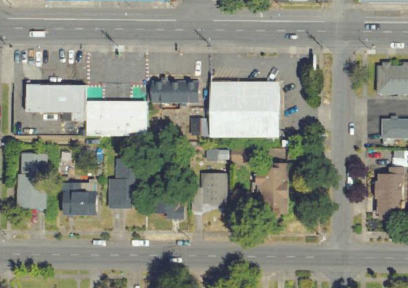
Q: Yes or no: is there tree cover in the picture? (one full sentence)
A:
Yes, tree cover shows up in the scene.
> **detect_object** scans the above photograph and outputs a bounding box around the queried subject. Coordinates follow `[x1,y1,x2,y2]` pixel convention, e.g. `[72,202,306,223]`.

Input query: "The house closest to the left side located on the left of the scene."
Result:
[18,153,48,209]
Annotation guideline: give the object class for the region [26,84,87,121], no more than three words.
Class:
building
